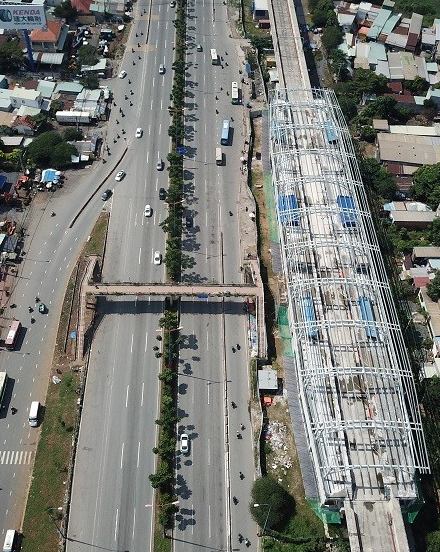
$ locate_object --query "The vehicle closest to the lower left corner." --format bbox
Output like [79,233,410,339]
[2,526,17,552]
